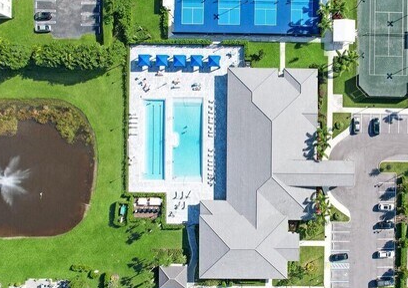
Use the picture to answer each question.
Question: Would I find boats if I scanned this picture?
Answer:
No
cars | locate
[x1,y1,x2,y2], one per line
[371,118,379,134]
[331,252,347,261]
[34,24,52,32]
[353,116,360,133]
[36,12,53,20]
[377,251,393,259]
[376,204,393,211]
[376,221,392,230]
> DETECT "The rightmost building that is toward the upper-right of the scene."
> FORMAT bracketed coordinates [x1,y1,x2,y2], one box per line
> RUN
[332,18,355,43]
